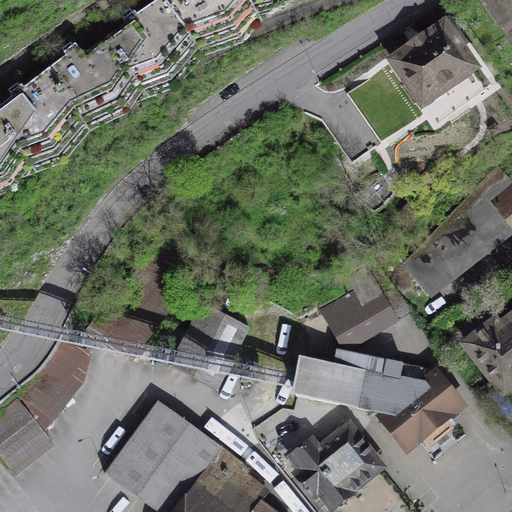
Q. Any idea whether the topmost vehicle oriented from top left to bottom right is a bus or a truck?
bus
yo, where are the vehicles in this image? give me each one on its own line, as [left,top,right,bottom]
[109,496,128,512]
[218,80,241,99]
[220,374,239,400]
[274,480,316,512]
[424,296,446,314]
[277,324,291,354]
[276,421,299,434]
[204,416,278,482]
[102,425,126,454]
[277,380,292,405]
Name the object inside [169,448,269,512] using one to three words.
building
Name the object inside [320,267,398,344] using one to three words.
house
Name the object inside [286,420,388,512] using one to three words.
house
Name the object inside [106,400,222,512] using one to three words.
building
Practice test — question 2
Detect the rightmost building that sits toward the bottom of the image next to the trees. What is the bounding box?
[460,310,512,396]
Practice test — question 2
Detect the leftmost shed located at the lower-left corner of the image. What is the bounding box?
[0,399,53,474]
